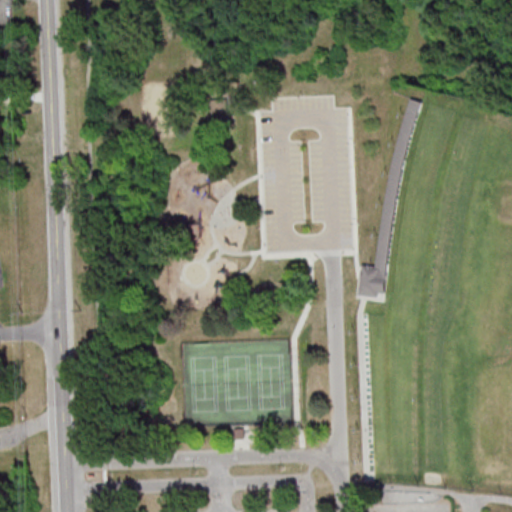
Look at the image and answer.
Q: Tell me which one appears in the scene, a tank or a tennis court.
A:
tennis court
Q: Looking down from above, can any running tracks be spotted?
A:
No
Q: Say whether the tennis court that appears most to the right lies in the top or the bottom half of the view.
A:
bottom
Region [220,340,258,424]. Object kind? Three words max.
tennis court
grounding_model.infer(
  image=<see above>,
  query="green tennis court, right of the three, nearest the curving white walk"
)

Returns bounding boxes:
[254,339,294,422]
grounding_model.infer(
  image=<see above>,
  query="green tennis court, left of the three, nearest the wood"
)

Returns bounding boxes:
[184,342,224,424]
